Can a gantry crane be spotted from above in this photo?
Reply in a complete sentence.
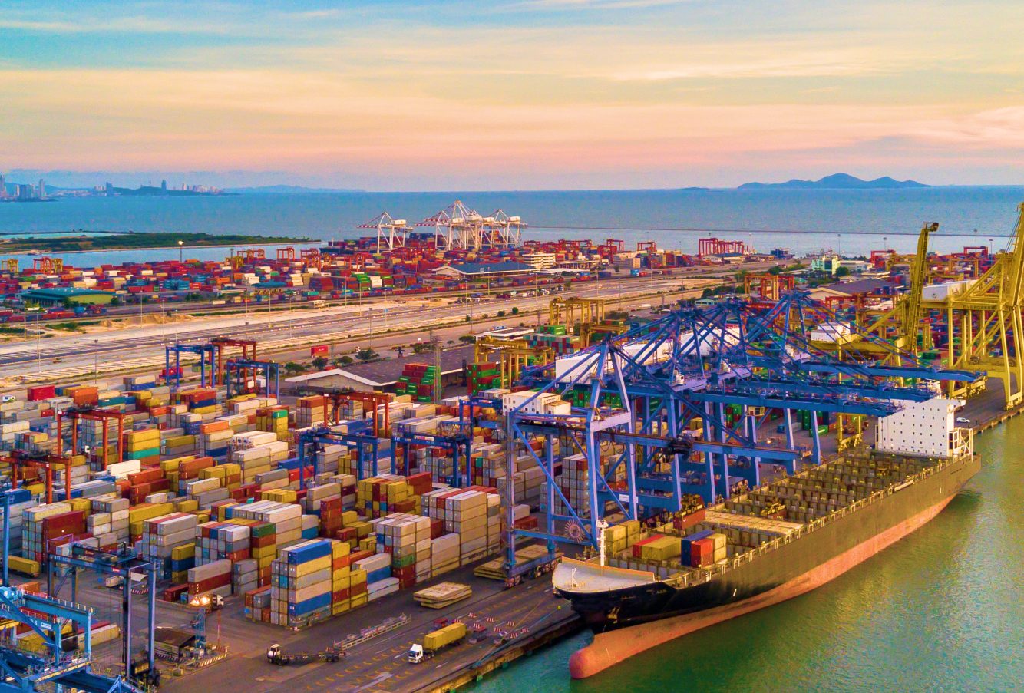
Yes, the frame does contain a gantry crane.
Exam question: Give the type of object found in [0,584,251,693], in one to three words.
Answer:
container crane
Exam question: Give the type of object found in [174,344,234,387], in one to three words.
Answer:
container crane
